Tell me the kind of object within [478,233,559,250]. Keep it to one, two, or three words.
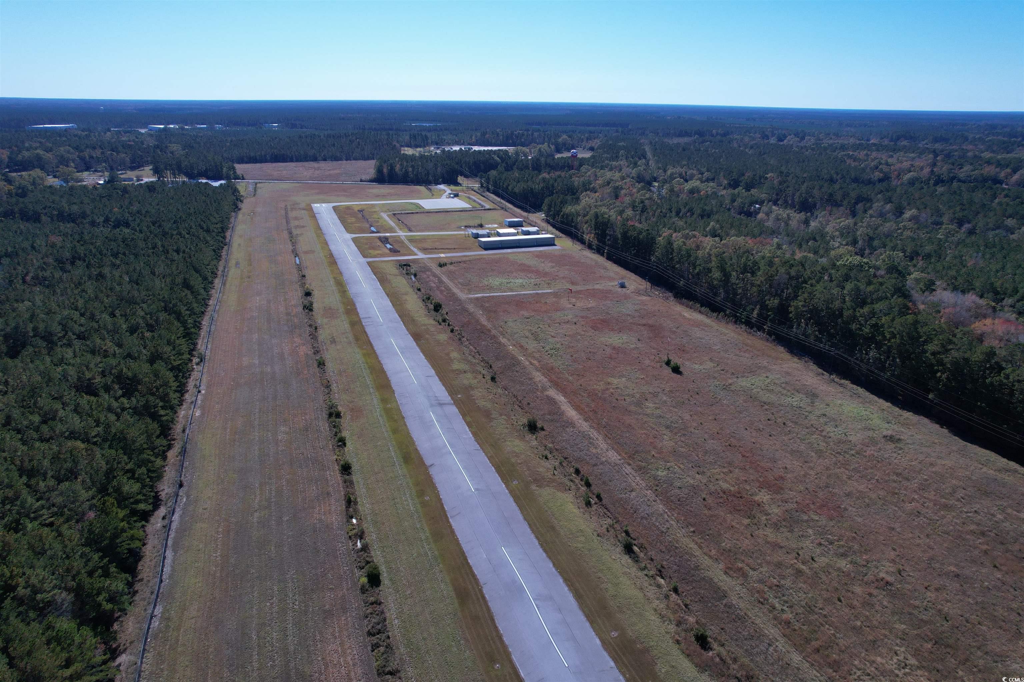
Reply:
hangar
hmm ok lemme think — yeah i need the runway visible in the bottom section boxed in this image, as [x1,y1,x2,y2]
[312,204,628,682]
